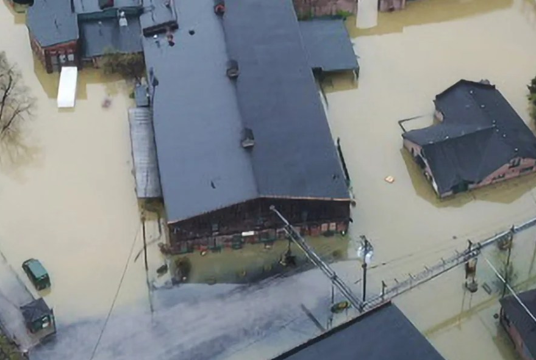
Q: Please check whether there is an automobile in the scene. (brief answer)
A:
Yes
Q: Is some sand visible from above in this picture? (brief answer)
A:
No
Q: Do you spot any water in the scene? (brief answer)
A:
Yes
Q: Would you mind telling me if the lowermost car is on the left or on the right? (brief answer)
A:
left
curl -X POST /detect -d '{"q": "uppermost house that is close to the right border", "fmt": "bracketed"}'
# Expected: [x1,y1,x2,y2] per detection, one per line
[398,85,536,205]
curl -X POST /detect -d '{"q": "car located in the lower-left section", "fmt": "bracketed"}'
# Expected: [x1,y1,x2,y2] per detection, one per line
[23,262,50,295]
